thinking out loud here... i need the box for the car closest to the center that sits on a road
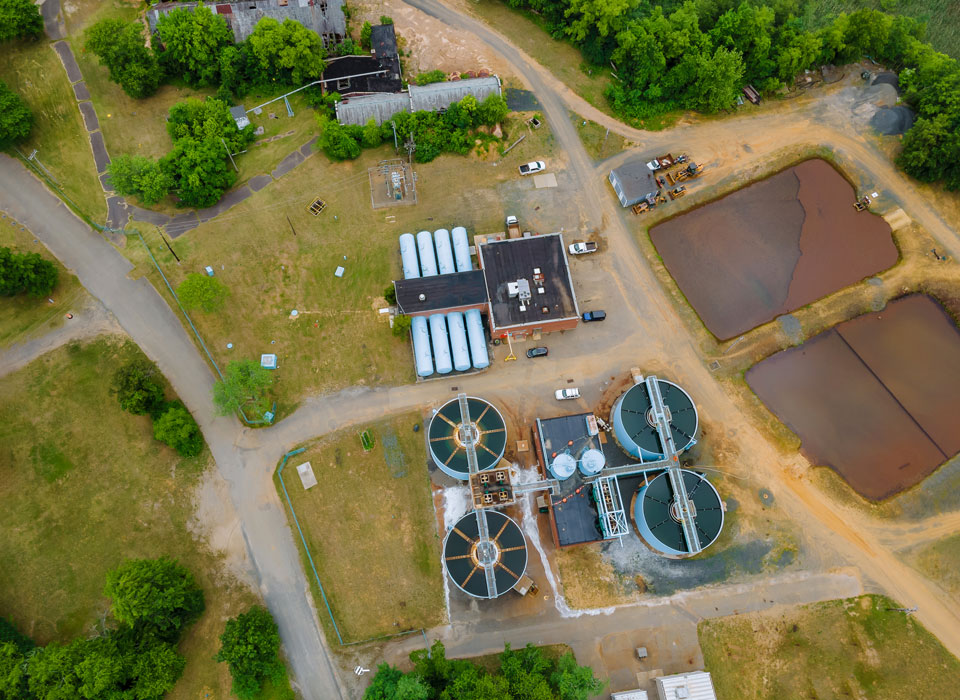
[526,346,549,358]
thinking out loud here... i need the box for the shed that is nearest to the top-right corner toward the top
[609,162,658,208]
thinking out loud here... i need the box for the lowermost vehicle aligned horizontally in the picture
[554,386,581,400]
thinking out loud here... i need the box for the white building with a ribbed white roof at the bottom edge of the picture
[650,671,714,700]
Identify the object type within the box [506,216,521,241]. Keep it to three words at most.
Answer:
vehicle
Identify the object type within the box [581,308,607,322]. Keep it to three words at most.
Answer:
car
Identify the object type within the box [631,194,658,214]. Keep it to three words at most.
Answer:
work vehicle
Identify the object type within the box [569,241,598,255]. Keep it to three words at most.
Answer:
vehicle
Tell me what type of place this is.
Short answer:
industrial area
